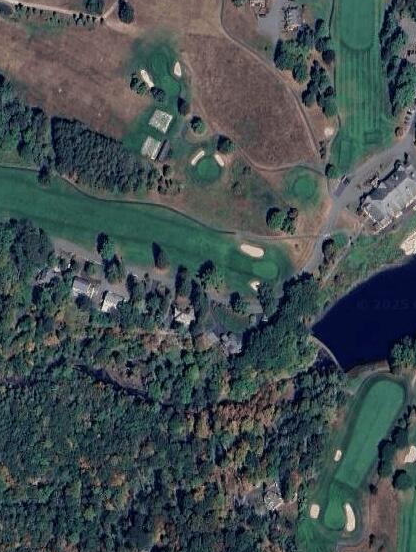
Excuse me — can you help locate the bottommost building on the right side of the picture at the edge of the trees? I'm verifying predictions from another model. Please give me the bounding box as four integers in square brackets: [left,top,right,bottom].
[260,482,287,511]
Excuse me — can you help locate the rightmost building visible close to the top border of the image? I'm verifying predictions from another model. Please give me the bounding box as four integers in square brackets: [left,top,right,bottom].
[286,9,303,31]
